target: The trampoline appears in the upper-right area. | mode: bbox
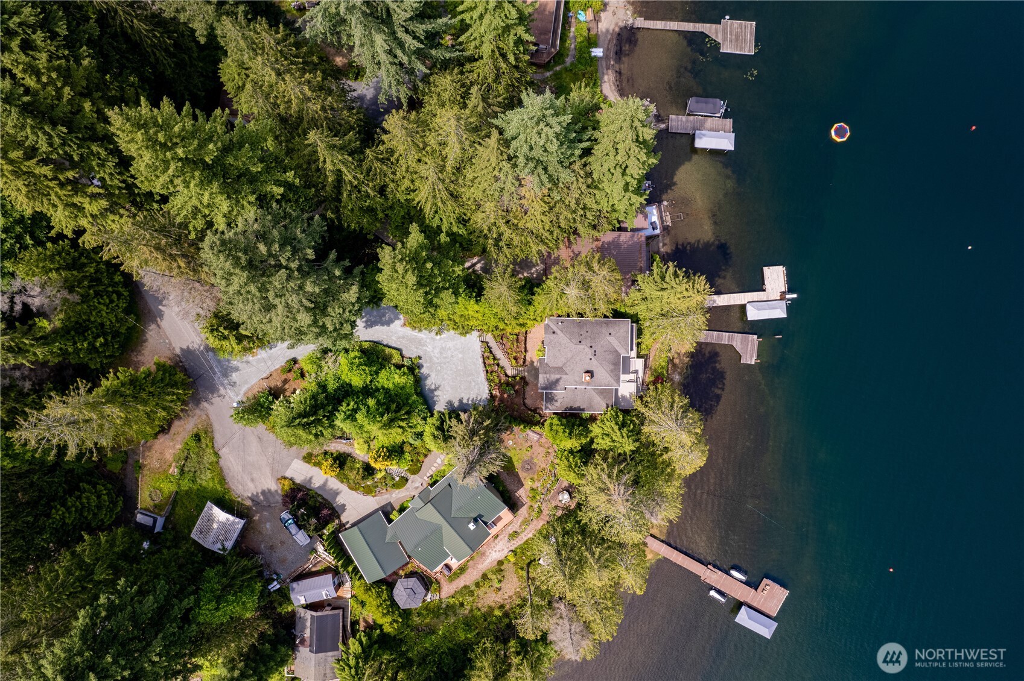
[830,123,848,141]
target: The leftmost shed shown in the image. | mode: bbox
[134,510,167,533]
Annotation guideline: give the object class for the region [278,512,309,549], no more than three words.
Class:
truck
